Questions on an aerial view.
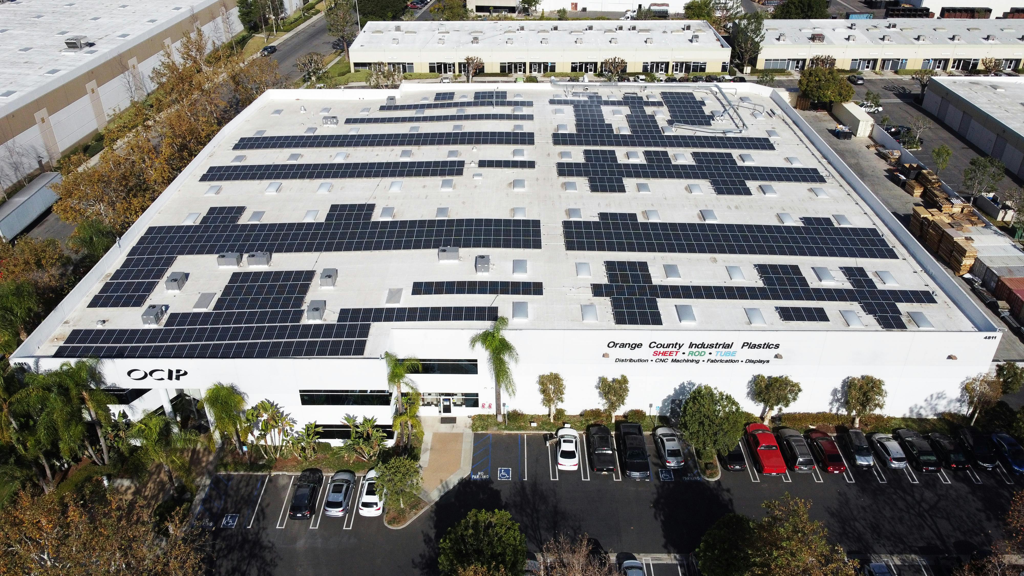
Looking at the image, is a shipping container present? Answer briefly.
Yes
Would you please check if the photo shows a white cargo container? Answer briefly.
Yes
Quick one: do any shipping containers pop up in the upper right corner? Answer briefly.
Yes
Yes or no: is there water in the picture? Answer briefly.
No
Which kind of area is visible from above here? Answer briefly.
industrial area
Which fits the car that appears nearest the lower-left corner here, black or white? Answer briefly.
black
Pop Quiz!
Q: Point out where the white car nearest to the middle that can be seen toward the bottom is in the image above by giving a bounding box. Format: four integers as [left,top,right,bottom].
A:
[546,428,580,470]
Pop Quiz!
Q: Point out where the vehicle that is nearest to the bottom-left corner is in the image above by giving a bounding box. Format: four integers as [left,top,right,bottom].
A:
[286,470,323,518]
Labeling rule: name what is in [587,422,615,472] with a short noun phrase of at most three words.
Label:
truck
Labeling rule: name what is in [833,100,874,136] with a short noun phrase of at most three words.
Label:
shipping container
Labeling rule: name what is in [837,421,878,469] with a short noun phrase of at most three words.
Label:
car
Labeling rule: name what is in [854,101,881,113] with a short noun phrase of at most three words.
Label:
vehicle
